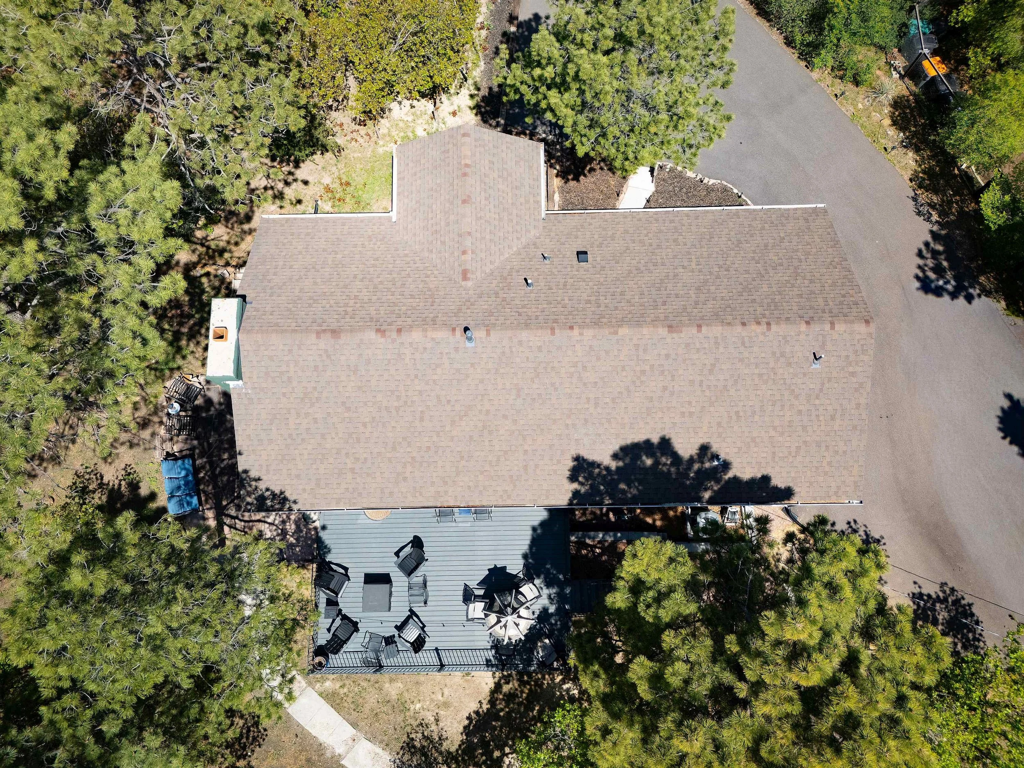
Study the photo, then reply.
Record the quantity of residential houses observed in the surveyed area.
one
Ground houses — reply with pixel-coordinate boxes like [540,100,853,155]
[207,123,874,513]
